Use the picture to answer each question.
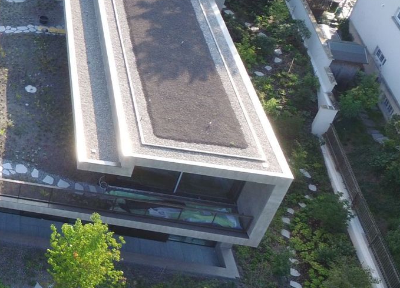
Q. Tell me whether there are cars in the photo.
No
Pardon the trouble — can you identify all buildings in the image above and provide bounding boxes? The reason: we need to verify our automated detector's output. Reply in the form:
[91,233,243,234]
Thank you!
[334,43,376,92]
[348,0,400,115]
[61,0,293,247]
